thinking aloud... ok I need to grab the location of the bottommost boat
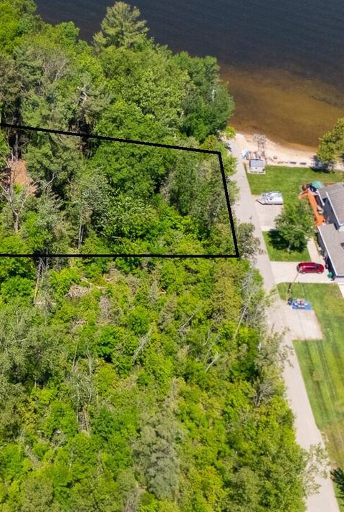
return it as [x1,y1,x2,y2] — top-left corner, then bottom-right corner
[259,192,287,206]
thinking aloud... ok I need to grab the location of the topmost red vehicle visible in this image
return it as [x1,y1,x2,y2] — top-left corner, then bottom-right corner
[297,261,327,274]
